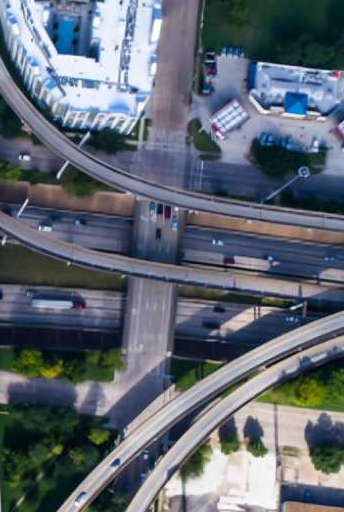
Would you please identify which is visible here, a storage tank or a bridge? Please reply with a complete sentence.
Looking from above, you can make out a bridge.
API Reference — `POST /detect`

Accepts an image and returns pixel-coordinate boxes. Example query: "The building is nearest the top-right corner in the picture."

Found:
[245,62,343,123]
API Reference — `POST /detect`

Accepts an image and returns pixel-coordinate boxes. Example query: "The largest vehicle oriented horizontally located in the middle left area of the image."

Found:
[29,298,86,310]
